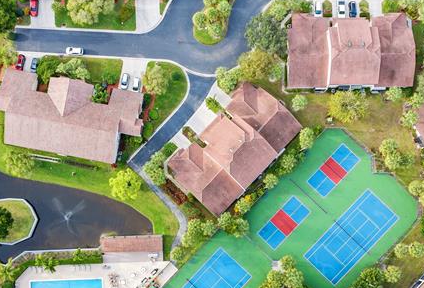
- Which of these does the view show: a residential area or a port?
residential area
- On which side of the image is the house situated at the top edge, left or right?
right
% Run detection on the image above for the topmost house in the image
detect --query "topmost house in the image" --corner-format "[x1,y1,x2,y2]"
[283,12,414,96]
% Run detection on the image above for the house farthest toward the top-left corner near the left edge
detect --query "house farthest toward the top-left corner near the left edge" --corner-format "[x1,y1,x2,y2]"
[0,69,144,165]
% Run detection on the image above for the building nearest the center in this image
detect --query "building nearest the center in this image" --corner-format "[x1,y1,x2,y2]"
[169,80,302,218]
